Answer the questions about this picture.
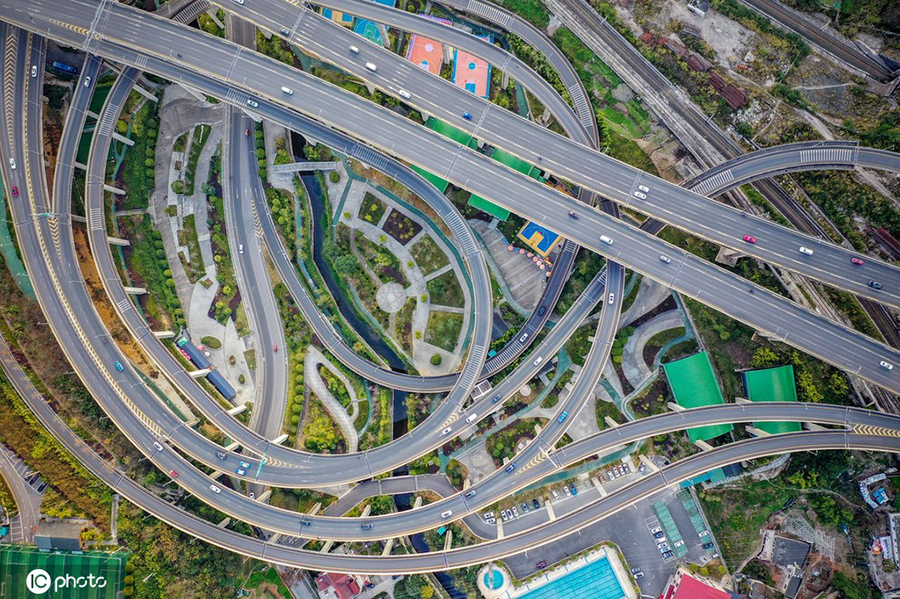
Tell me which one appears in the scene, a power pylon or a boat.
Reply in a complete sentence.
I can see a power pylon in this picture.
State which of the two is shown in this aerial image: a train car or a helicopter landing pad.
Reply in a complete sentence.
There is a train car in the scene.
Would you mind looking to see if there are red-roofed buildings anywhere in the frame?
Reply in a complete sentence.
Yes, a red-roofed building is visible in the scene.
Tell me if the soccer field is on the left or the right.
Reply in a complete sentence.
It is on the left.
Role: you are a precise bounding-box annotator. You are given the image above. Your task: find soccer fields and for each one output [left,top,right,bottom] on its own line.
[0,544,128,599]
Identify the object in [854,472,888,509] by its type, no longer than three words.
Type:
building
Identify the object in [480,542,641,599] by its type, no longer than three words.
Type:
swimming pool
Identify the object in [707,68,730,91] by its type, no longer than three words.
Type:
rail car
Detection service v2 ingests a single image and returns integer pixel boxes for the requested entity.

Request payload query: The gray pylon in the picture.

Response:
[780,515,845,567]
